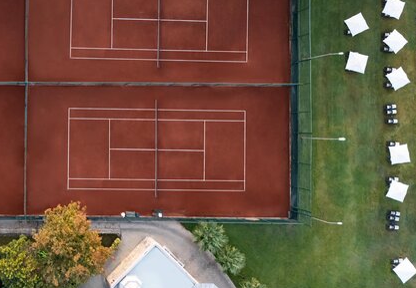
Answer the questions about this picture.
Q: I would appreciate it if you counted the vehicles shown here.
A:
0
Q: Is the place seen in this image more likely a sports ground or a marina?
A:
sports ground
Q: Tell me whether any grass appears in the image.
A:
Yes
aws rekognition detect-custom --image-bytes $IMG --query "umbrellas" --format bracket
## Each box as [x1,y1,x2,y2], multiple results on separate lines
[391,258,416,283]
[379,0,404,18]
[383,66,410,91]
[344,52,368,73]
[381,29,407,54]
[383,180,409,202]
[385,144,410,165]
[343,12,368,36]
